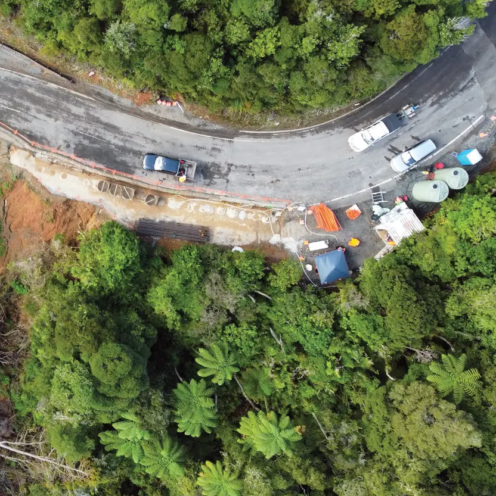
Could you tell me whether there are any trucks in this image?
Yes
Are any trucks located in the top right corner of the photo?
Yes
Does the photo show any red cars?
No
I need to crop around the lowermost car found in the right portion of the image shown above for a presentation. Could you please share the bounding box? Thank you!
[387,136,439,175]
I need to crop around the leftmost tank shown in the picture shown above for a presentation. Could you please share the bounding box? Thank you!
[411,178,447,201]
